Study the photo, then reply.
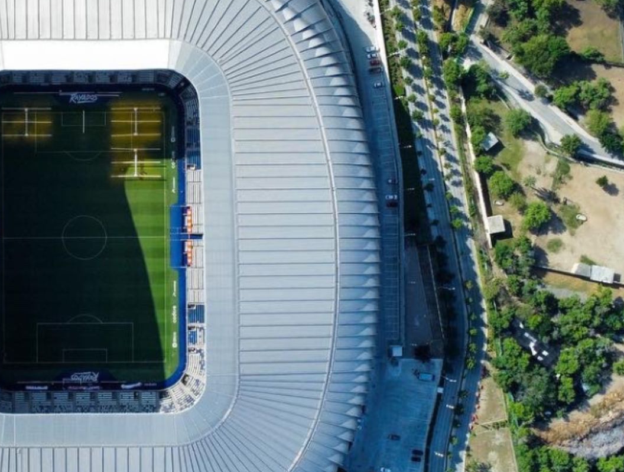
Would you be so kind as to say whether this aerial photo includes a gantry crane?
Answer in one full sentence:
No, no gantry crane is visible in the view.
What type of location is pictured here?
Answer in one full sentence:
What you see here is a sports ground.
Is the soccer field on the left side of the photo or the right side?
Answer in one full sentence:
You can find the soccer field on the left side of the picture.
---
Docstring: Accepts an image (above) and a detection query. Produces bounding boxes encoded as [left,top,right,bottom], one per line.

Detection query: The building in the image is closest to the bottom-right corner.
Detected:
[508,319,554,362]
